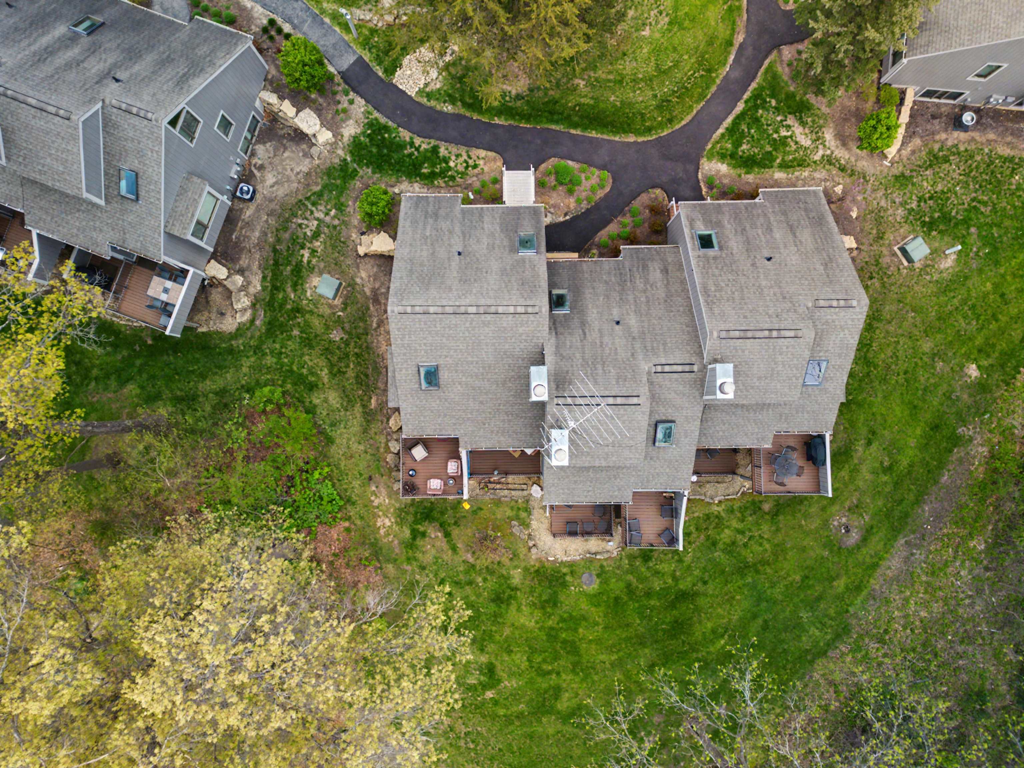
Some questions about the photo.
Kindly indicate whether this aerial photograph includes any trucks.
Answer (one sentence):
No, I can't see a single truck in this photo.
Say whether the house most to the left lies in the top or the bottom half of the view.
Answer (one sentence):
It is in the top half that the house most to the left appears.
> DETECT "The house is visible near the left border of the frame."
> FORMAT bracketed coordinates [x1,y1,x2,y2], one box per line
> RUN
[0,0,268,274]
